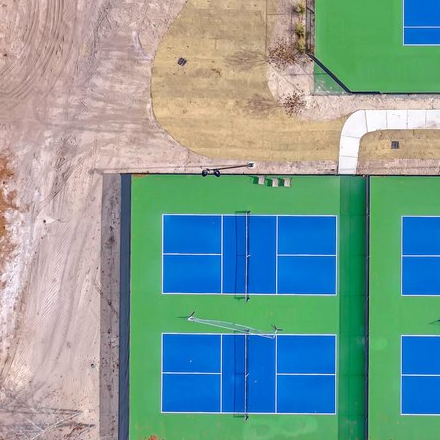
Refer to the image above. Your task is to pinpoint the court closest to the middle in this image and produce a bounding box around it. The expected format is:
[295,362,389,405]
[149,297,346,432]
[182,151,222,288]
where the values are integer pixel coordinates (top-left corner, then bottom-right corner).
[130,175,364,314]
